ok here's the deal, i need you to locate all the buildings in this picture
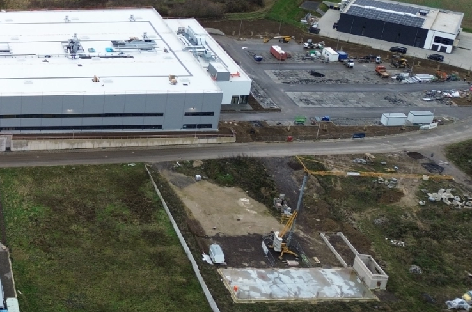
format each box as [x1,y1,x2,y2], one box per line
[334,0,467,54]
[0,5,252,133]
